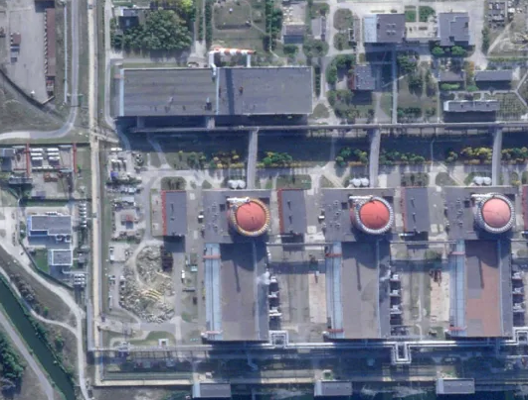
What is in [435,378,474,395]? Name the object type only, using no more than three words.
building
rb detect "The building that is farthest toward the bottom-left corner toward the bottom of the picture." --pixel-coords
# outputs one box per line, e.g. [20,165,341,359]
[50,250,72,265]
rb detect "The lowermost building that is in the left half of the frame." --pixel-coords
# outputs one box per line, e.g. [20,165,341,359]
[191,383,231,399]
